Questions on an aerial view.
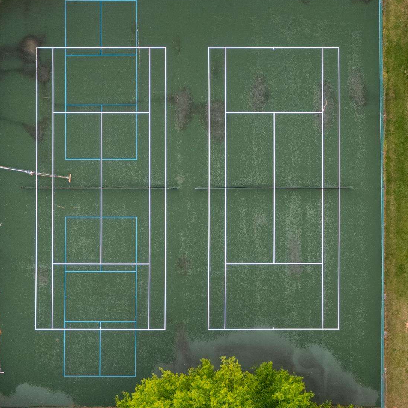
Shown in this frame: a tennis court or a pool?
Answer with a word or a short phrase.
tennis court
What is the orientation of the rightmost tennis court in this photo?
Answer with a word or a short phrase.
vertically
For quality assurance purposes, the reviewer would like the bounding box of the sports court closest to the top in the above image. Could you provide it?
[65,0,137,159]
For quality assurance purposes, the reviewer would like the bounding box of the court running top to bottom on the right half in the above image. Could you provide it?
[205,45,342,333]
